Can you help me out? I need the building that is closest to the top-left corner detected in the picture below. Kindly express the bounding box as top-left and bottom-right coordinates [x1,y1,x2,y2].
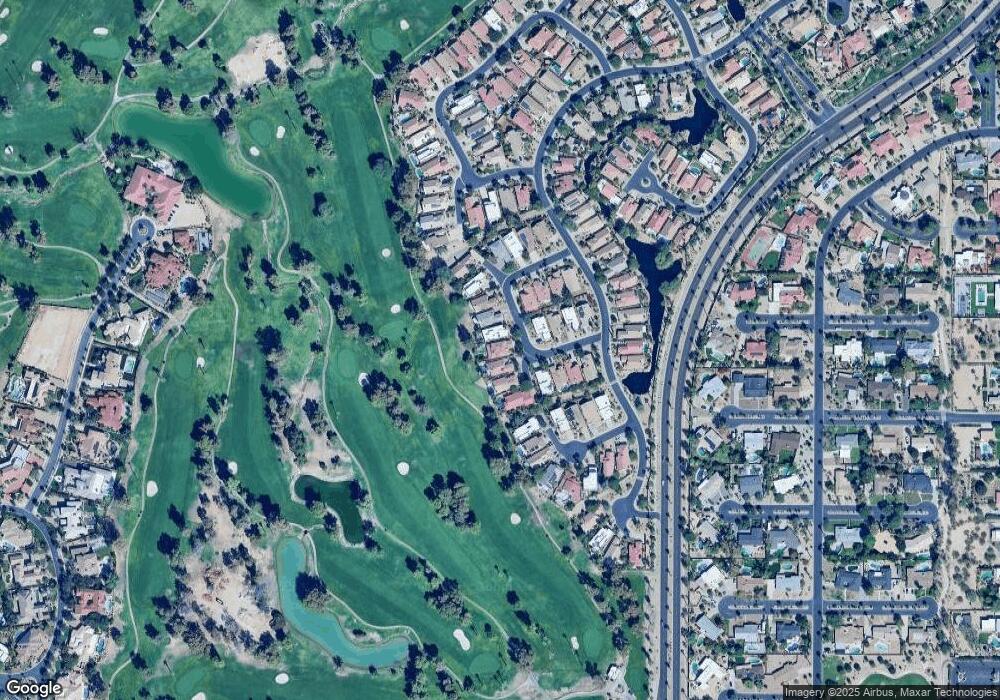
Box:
[123,166,181,226]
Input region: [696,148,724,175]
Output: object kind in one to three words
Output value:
house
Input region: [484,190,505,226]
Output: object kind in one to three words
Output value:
house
